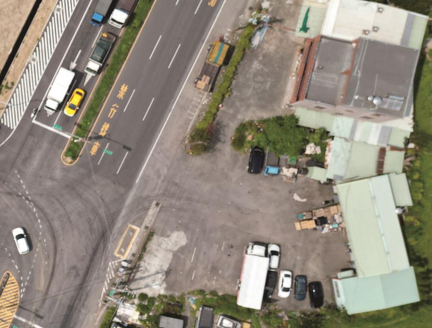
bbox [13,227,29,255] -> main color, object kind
white car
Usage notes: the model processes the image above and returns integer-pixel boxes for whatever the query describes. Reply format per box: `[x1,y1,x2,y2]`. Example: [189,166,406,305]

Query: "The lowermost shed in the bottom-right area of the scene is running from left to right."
[326,267,420,315]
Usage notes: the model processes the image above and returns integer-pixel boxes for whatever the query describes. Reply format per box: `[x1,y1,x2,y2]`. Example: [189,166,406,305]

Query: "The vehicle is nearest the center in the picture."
[248,146,264,174]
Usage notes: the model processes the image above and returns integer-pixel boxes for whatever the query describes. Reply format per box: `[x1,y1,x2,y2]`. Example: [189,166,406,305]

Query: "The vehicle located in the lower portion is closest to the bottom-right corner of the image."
[310,281,325,308]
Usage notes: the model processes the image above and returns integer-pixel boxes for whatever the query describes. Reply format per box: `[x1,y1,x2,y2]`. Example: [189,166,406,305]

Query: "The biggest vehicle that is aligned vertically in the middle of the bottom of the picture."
[238,241,267,309]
